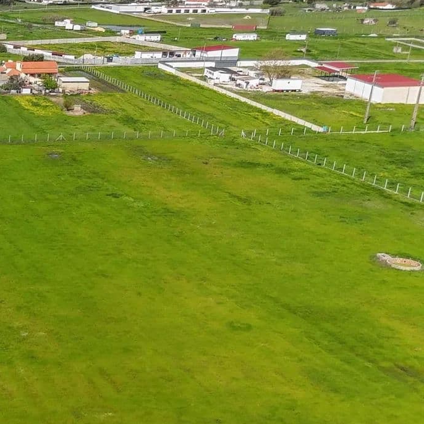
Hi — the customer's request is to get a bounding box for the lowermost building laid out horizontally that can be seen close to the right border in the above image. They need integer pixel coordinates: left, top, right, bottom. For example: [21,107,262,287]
[346,68,424,103]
